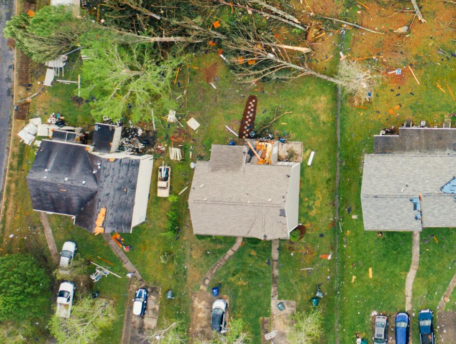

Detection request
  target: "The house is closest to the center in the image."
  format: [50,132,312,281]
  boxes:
[185,140,301,242]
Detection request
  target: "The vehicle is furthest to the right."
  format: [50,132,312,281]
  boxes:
[416,307,435,344]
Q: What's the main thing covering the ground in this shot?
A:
grass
